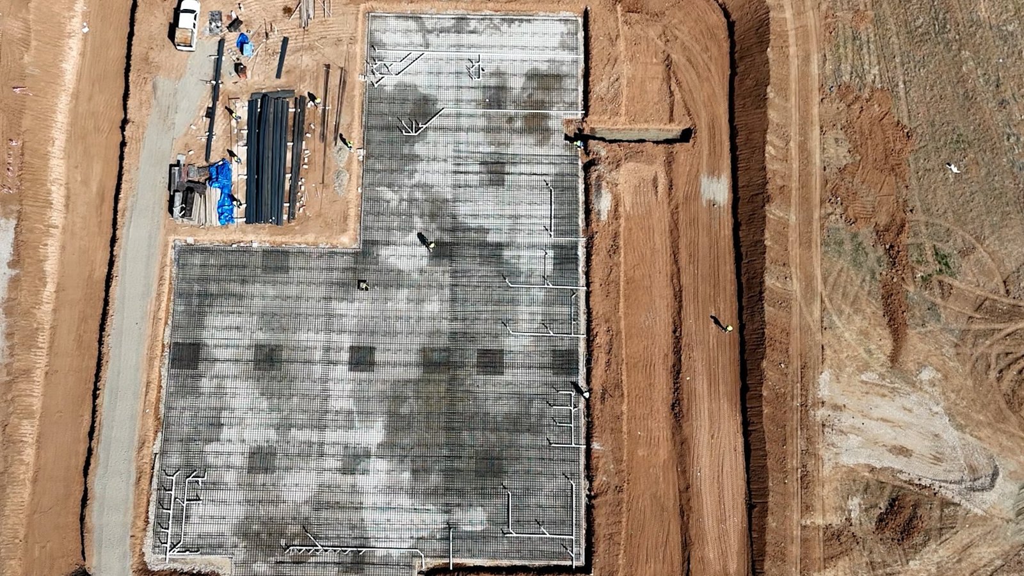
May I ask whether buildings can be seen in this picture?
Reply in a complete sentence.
No, I can see no building in this picture.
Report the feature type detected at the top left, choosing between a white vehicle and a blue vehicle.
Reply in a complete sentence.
What appears at the top left is a white vehicle.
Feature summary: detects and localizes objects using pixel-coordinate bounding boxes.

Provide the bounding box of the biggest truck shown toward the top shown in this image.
[173,1,203,53]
